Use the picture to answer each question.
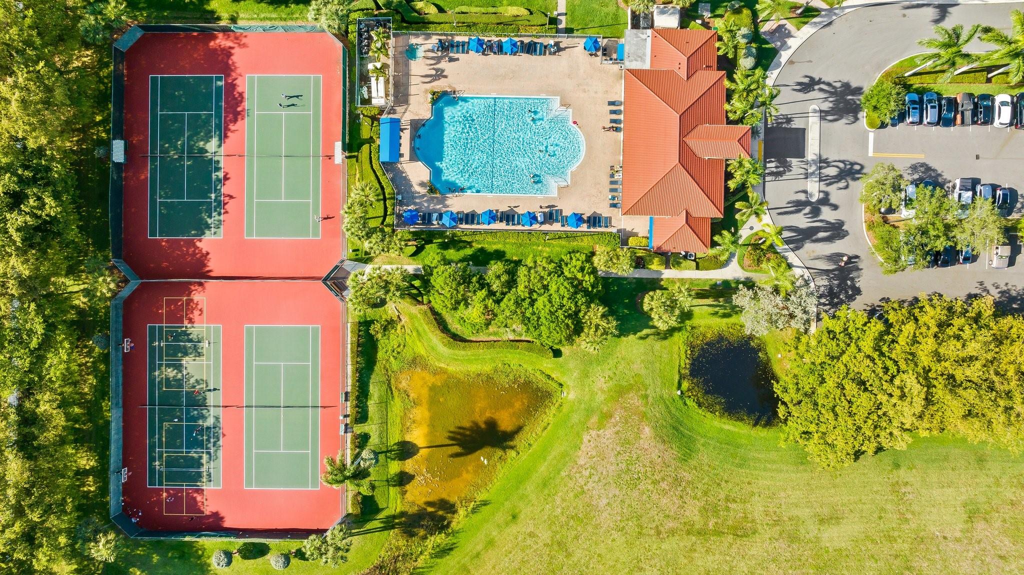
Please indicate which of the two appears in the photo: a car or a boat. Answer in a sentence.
Of the two, only a car appears.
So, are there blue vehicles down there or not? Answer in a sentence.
Yes, the photo shows a blue vehicle.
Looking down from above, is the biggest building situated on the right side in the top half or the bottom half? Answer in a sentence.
The top half of the photo is where the biggest building situated on the right side is.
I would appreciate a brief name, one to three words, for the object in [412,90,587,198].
swimming pool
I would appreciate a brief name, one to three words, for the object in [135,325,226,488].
tennis court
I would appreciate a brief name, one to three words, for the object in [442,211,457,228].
umbrella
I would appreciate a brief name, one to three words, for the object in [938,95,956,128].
car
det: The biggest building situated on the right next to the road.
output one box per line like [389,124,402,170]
[620,28,752,253]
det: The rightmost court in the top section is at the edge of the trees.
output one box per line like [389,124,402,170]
[233,75,329,238]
